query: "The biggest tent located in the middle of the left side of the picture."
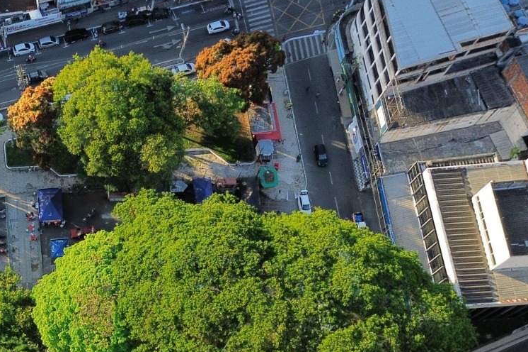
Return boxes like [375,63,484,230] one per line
[37,188,63,228]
